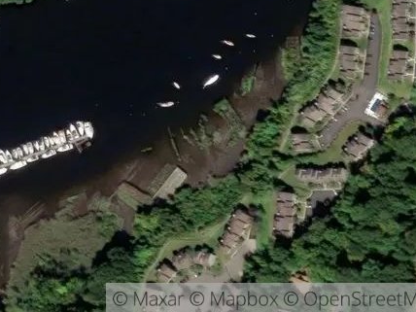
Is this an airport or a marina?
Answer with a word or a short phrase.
marina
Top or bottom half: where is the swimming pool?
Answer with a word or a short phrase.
top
